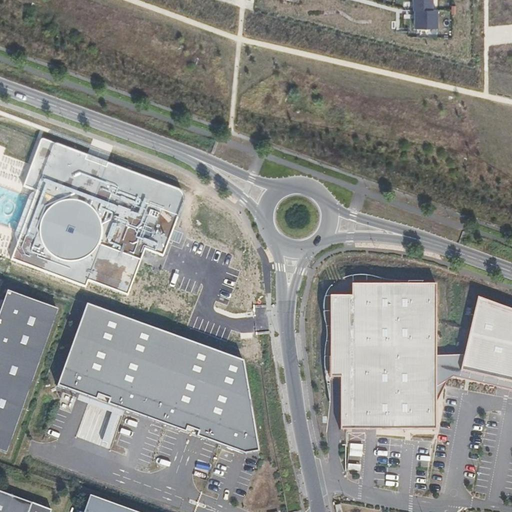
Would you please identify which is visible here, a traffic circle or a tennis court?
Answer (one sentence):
Of the two, only a traffic circle appears.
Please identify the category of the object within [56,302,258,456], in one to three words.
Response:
building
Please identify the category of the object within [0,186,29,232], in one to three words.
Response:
swimming pool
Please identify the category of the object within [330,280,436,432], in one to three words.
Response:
building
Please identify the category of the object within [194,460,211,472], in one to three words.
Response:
vehicle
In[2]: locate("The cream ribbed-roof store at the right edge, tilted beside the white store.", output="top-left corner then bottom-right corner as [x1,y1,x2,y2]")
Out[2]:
[453,295,512,390]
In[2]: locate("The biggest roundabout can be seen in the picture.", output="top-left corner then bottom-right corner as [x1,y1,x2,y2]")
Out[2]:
[210,158,384,268]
